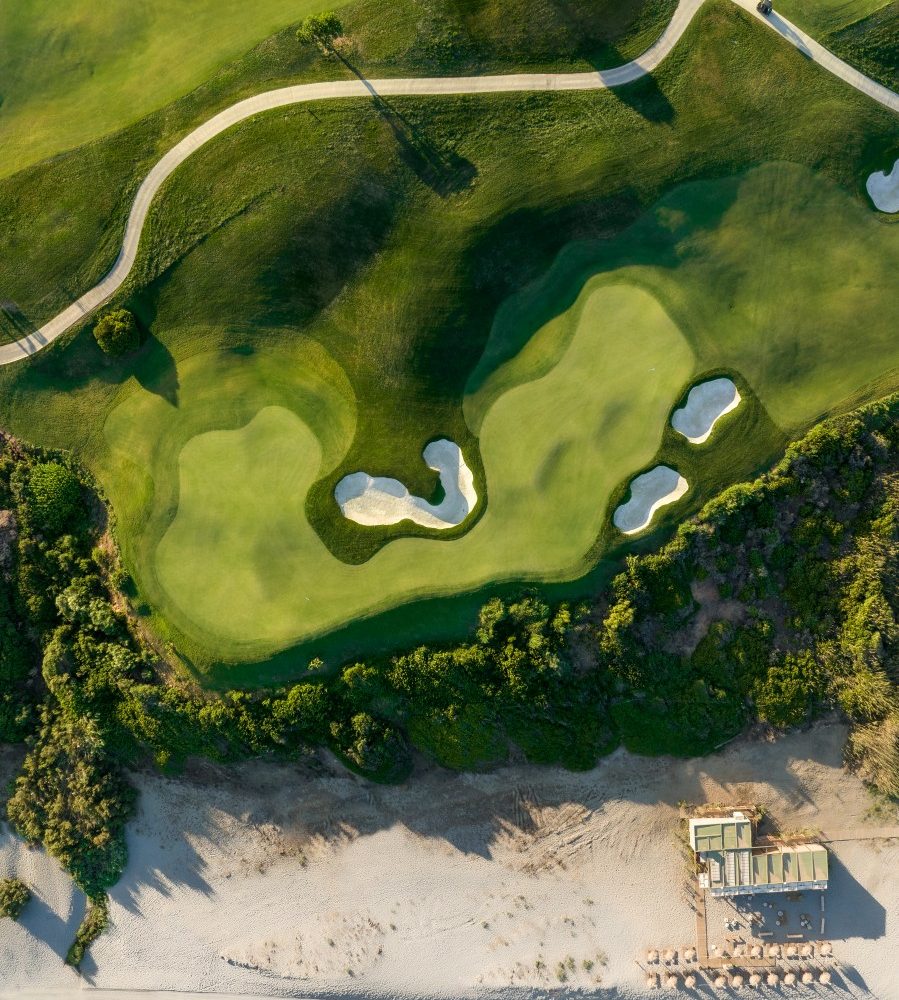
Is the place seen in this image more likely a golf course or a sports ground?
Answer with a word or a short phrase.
golf course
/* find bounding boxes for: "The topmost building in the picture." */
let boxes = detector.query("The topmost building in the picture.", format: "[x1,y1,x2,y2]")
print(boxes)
[687,813,829,896]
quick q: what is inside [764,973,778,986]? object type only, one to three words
umbrella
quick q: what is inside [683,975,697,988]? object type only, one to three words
umbrella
